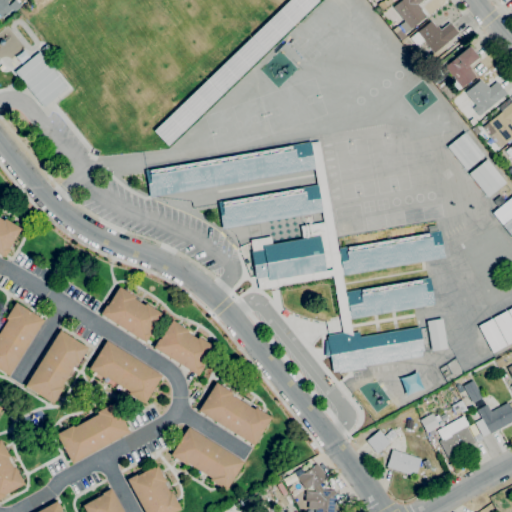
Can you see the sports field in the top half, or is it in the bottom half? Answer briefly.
top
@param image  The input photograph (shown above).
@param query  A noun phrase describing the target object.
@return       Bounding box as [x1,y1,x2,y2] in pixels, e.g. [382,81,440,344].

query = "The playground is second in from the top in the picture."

[405,81,438,114]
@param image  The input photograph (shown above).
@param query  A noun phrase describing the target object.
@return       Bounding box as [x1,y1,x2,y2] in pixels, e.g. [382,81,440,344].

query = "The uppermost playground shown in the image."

[262,52,297,87]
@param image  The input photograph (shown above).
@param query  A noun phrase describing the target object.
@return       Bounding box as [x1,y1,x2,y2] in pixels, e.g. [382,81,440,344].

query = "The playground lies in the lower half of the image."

[360,382,390,412]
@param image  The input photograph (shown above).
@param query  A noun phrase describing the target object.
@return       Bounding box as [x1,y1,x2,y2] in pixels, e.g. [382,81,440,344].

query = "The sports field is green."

[31,0,288,156]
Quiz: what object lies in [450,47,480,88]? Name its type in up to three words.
house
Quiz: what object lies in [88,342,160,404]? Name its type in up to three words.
building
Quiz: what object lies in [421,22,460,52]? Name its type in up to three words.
house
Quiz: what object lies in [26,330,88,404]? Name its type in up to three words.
building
